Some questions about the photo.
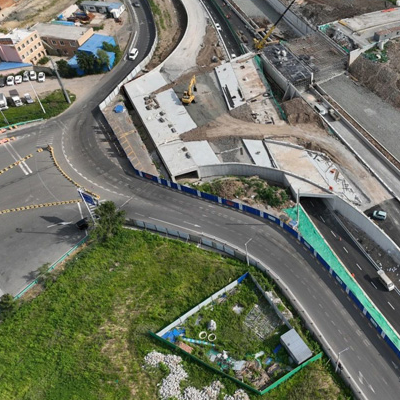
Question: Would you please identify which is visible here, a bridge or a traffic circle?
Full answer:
Looking from above, you can make out a bridge.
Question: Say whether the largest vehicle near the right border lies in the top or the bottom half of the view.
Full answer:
Seen from above, the largest vehicle near the right border lies in the bottom half of the view.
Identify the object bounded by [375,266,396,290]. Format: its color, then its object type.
white vehicle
